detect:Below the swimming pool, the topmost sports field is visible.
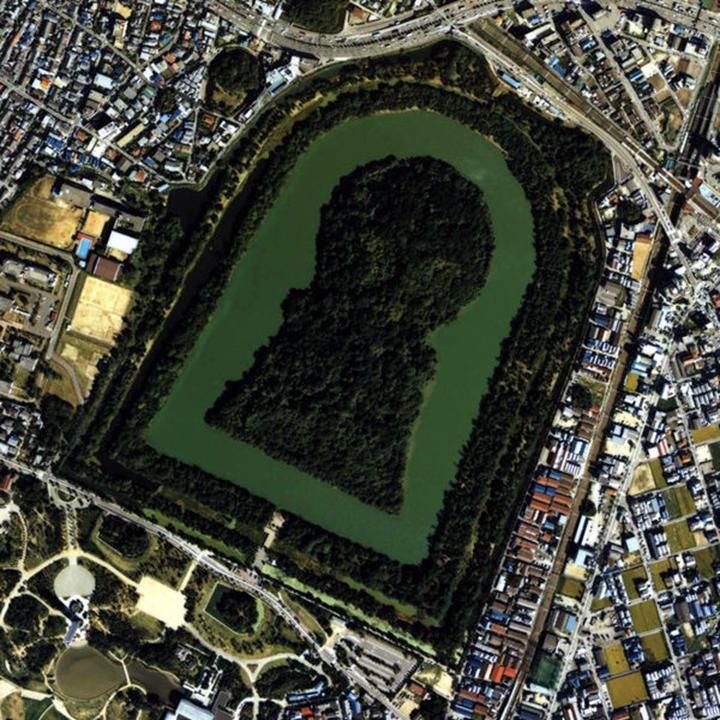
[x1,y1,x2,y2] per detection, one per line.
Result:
[70,277,136,344]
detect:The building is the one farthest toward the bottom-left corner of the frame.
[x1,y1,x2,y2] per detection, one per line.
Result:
[58,598,80,646]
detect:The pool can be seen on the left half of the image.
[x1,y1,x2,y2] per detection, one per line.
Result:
[77,233,97,259]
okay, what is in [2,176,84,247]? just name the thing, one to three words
sports field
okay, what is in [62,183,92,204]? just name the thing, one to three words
building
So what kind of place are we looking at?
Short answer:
residential area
